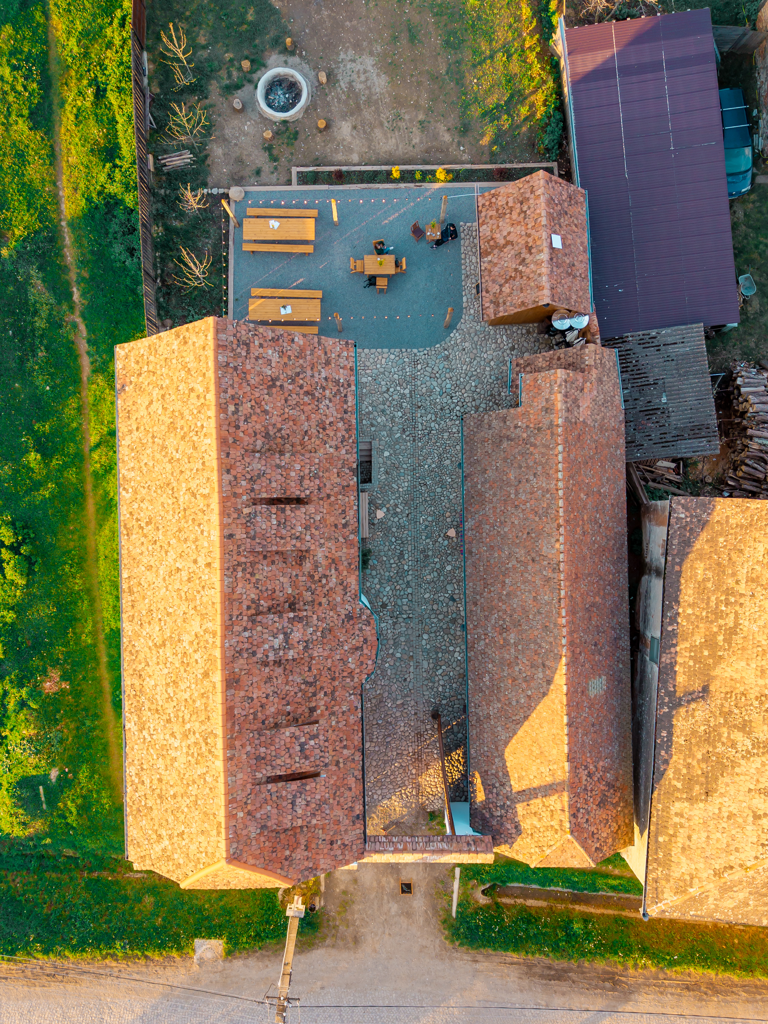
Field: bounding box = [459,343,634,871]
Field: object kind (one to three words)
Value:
house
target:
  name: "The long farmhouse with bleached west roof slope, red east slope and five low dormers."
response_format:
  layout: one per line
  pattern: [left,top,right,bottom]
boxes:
[114,316,382,894]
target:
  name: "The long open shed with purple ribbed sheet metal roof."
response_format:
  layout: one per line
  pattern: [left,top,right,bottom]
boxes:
[552,5,740,343]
